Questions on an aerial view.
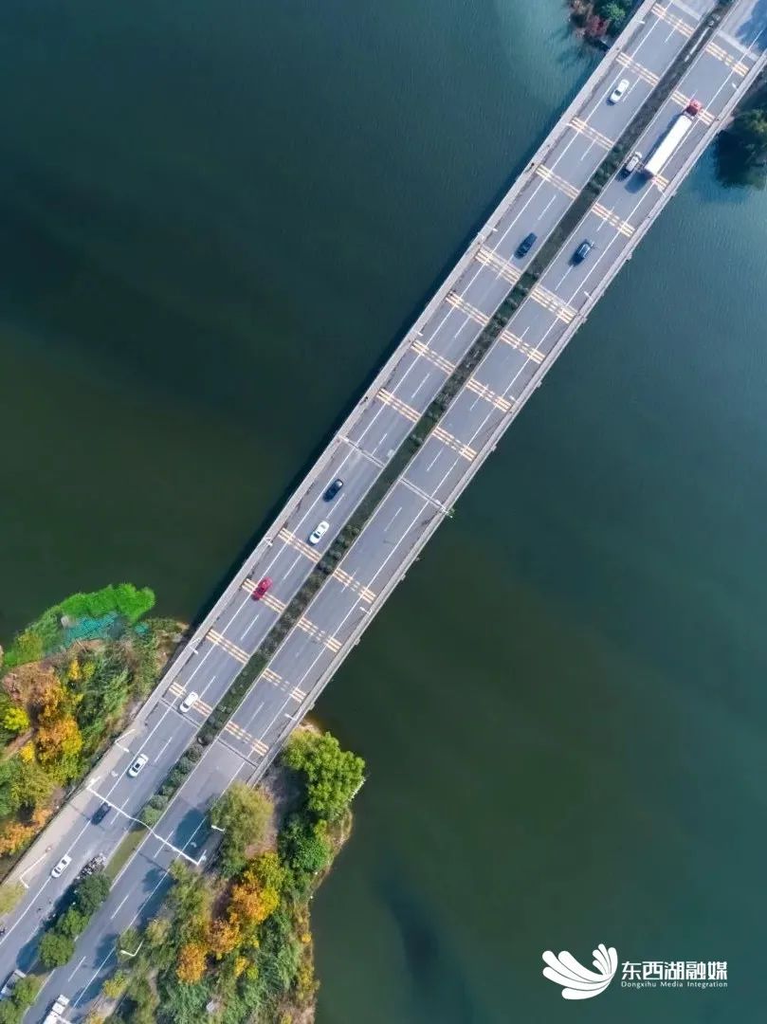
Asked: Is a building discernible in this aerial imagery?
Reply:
No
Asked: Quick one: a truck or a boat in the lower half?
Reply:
truck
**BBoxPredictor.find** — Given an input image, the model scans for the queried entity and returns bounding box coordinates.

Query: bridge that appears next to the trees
[150,0,767,778]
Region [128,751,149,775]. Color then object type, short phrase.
white car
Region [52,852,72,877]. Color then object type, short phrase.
white car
